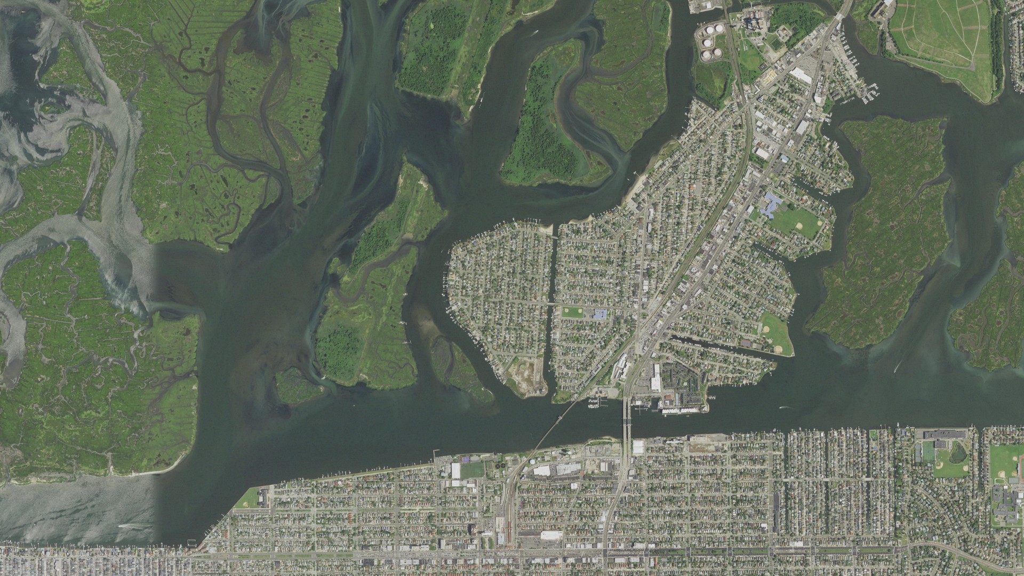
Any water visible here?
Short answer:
Yes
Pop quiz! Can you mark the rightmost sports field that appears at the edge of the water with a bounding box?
[990,444,1024,484]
